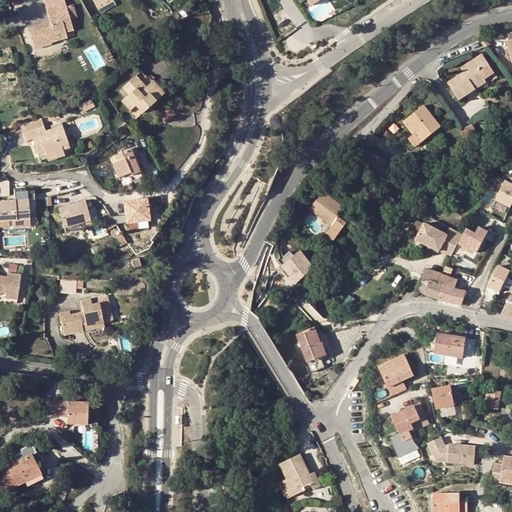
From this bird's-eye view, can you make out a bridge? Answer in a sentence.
Yes, looking at the shot, I can spot a bridge.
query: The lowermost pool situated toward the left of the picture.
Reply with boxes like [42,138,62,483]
[82,430,98,452]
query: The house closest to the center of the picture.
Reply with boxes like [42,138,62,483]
[280,252,311,286]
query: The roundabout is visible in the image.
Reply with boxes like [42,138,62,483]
[164,252,242,330]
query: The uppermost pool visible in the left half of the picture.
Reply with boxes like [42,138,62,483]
[84,45,106,72]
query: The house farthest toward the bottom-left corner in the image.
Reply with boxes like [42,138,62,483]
[8,446,43,490]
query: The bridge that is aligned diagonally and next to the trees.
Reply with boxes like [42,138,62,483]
[245,317,316,414]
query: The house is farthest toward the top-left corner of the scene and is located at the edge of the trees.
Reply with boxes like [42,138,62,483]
[28,0,78,48]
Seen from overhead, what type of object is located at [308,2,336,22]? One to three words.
swimming pool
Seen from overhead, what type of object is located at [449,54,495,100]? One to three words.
house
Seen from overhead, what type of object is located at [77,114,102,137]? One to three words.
swimming pool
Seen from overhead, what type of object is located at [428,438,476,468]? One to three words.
house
